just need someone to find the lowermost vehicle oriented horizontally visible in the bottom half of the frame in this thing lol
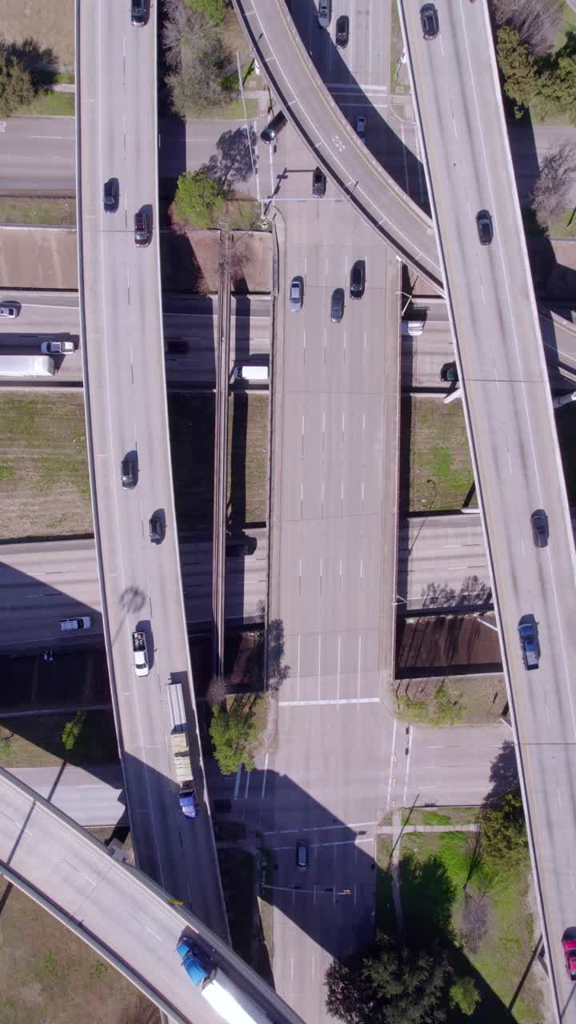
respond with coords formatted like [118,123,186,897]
[58,616,94,630]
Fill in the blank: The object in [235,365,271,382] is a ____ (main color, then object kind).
white vehicle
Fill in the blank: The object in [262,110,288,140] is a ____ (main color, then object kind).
black car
